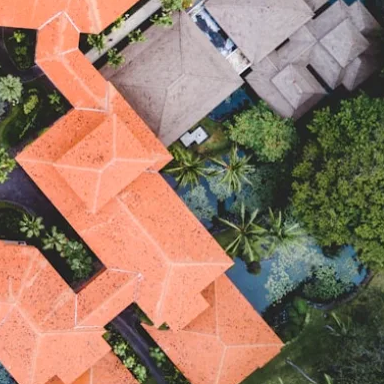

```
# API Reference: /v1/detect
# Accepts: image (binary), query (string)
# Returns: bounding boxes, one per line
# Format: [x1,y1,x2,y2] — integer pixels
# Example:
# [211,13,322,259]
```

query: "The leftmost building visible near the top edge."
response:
[100,9,244,144]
